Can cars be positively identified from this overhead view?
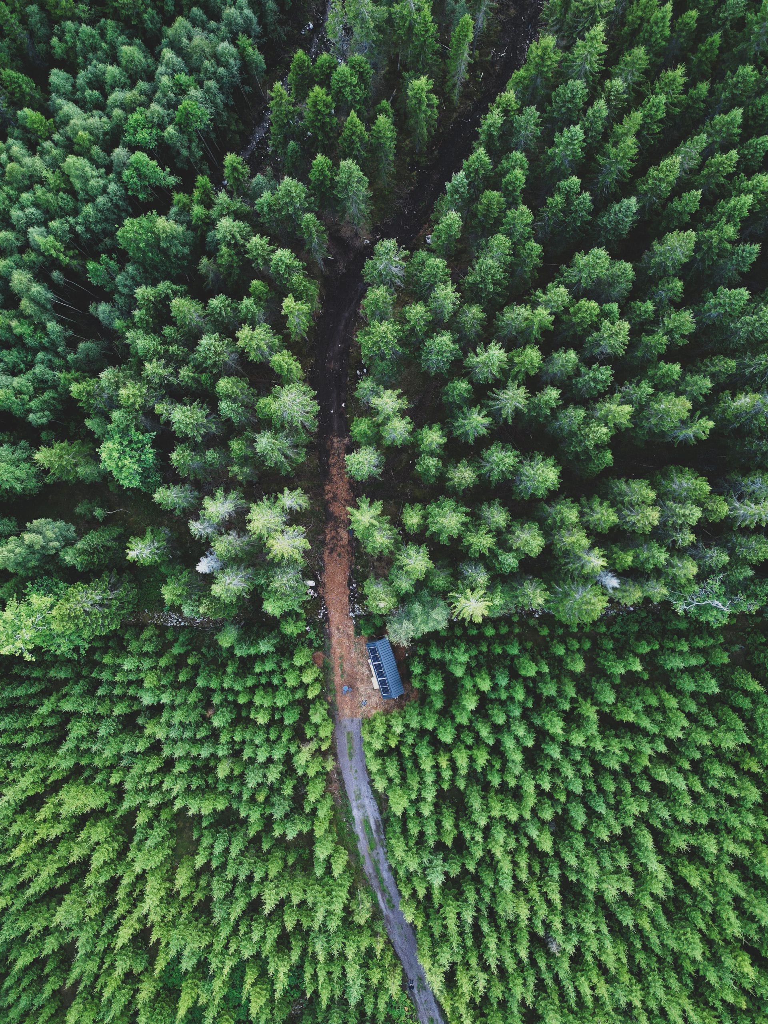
No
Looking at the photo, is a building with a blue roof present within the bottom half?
Yes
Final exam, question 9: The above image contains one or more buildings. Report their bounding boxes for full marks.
[366,637,405,699]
